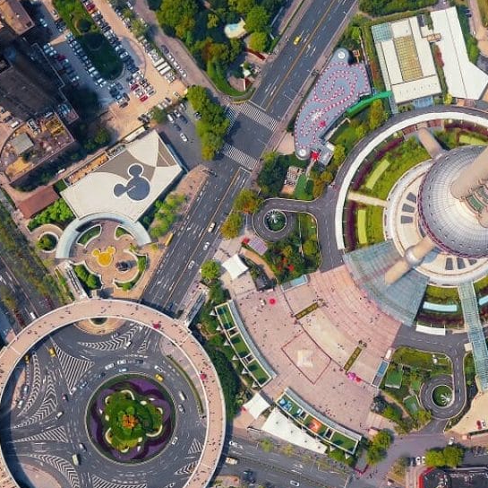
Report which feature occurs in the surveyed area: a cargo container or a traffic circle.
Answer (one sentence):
The one in the frame is a traffic circle.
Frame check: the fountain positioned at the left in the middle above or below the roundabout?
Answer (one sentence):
Within the scene, the fountain positioned at the left in the middle can be found above the roundabout.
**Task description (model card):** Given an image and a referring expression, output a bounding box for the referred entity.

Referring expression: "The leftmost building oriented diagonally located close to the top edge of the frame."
[0,0,49,46]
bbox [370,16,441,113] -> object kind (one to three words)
building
